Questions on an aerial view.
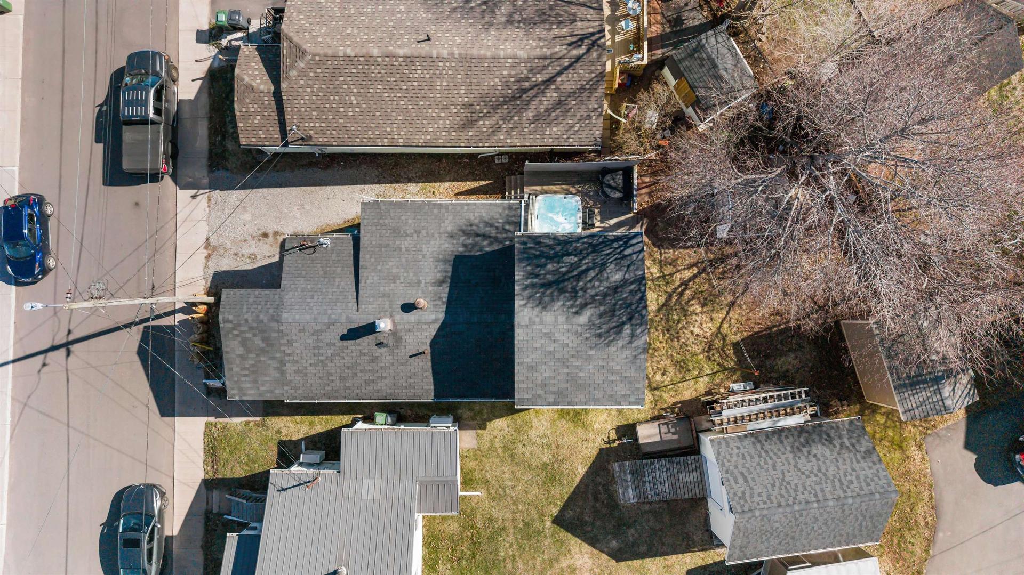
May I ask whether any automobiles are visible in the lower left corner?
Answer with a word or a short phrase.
Yes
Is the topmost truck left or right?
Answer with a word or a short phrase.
left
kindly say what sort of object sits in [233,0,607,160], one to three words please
house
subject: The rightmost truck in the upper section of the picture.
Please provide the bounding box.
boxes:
[118,52,180,179]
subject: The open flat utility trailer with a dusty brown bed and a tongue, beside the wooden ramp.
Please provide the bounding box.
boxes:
[609,412,704,454]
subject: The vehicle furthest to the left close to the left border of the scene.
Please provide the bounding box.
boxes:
[0,191,60,279]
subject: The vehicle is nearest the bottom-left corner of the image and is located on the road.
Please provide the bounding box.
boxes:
[117,482,174,575]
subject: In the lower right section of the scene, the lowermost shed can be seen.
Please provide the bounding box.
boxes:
[701,414,900,566]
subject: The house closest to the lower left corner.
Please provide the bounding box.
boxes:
[216,421,481,575]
